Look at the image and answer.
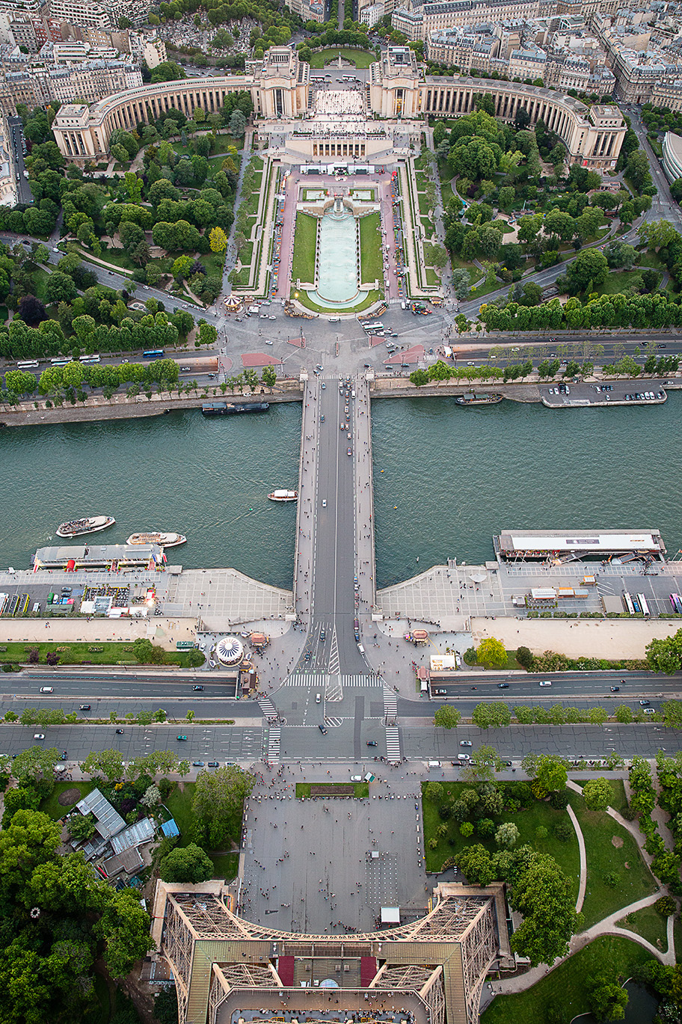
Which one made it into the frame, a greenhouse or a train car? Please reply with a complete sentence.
The image shows a greenhouse.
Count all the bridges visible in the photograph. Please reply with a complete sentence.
The picture shows 1 bridge.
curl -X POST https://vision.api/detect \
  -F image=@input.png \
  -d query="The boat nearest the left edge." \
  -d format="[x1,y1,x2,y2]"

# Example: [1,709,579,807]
[55,518,115,538]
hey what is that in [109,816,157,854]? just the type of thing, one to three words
greenhouse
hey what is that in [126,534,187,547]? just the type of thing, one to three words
boat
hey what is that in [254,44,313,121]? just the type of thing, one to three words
building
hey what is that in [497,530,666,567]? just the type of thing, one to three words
pier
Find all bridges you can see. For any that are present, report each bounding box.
[294,374,375,622]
